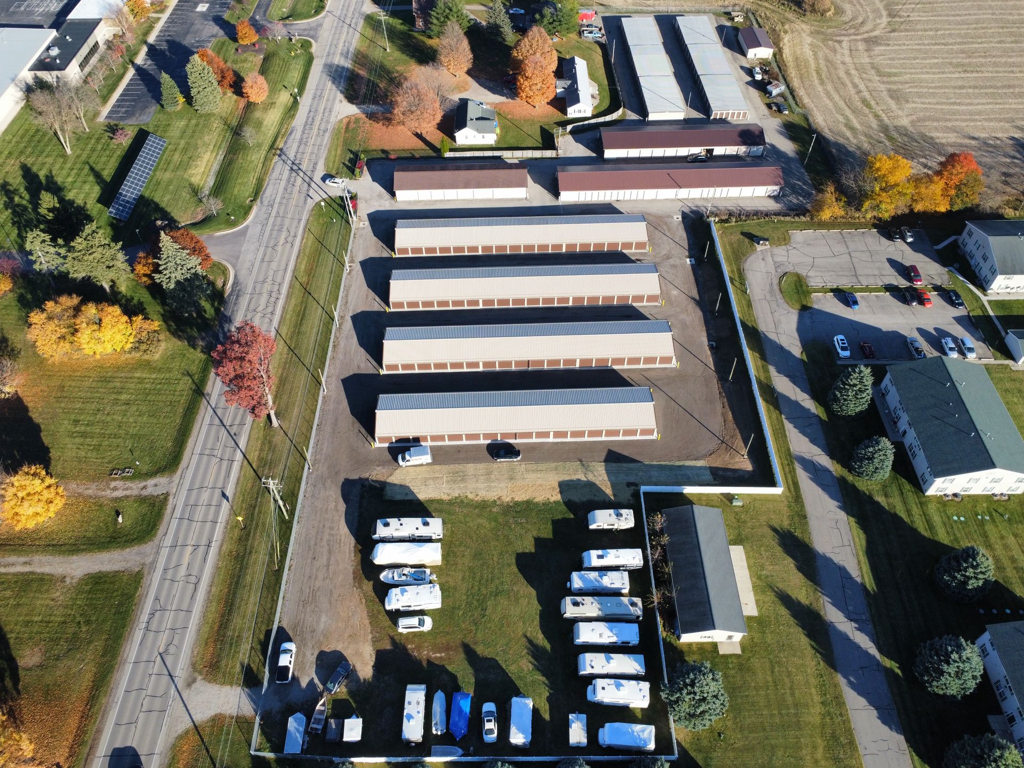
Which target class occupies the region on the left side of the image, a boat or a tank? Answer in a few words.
boat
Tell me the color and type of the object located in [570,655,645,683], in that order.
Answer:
white vehicle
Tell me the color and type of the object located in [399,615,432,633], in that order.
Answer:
white car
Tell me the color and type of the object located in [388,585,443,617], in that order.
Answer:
white vehicle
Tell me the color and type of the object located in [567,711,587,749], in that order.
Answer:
white camper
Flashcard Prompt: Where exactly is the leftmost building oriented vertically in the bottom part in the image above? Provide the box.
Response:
[661,505,747,642]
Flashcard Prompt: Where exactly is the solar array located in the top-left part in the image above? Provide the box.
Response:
[108,133,166,221]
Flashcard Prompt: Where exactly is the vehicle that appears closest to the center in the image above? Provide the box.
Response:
[493,448,521,462]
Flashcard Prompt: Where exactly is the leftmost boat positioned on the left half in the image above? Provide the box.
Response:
[309,695,327,732]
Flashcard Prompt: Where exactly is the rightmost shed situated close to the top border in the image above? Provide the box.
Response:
[737,25,774,59]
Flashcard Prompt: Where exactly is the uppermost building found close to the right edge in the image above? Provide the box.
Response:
[958,222,1024,292]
